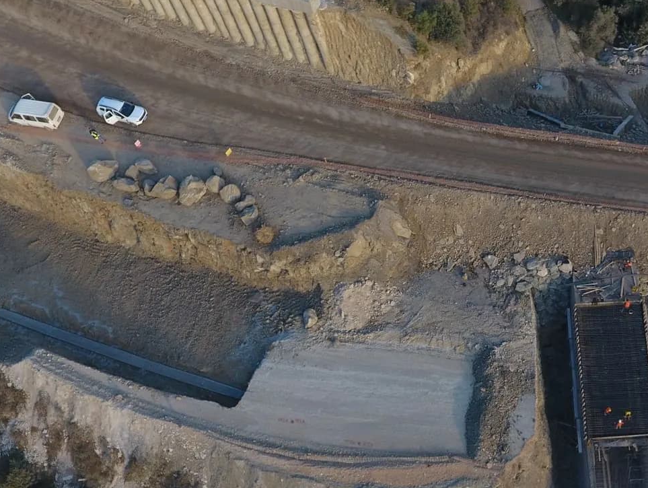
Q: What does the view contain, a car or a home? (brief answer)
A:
car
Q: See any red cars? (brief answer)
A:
No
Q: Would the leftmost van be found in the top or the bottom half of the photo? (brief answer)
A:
top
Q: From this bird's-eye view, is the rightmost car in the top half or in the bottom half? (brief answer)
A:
top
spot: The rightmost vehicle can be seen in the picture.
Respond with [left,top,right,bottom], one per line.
[97,97,147,126]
